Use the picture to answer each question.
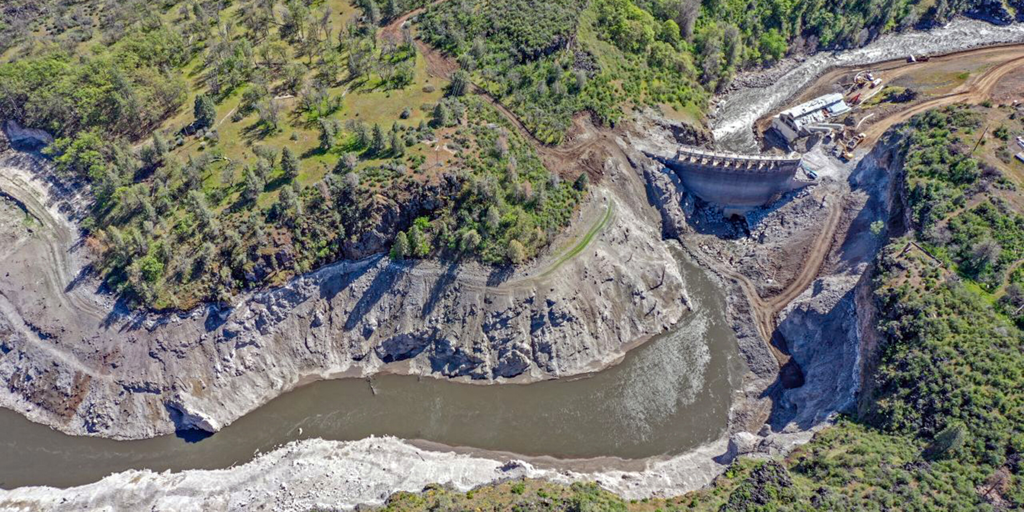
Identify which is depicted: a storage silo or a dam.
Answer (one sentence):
It is a dam that can be seen here.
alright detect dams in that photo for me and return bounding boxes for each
[669,145,815,221]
